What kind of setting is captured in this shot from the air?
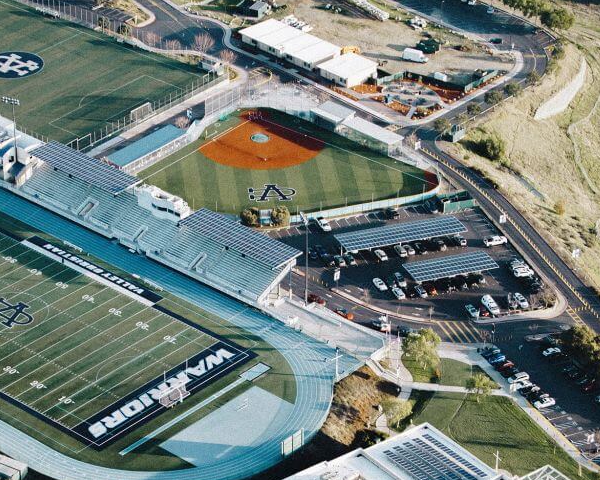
sports ground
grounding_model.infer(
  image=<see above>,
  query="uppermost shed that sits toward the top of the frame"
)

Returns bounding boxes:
[247,0,272,19]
